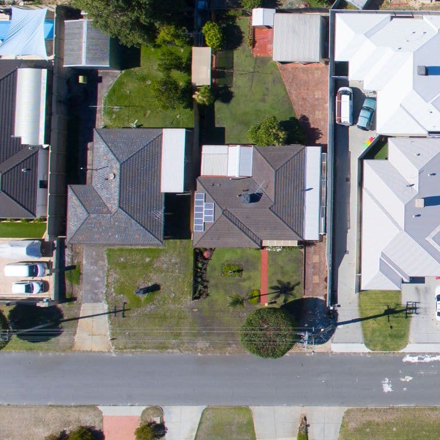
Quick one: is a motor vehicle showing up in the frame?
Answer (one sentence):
Yes, a motor vehicle can be made out from above.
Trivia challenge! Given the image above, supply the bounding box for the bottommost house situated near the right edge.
[360,137,440,291]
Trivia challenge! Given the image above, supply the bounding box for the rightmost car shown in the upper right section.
[357,96,376,131]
